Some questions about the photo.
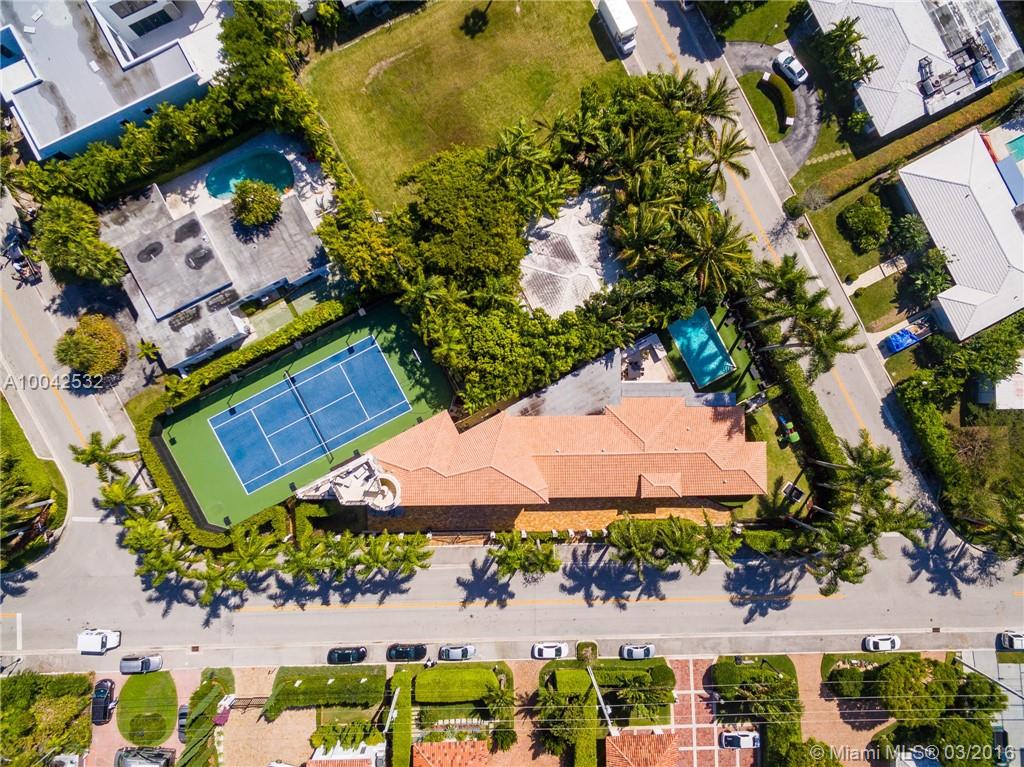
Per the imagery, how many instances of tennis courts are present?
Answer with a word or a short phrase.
1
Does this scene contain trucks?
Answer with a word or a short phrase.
Yes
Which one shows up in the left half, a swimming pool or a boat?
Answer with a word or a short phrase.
swimming pool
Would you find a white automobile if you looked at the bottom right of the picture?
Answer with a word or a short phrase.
Yes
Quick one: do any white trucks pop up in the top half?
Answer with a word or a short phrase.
Yes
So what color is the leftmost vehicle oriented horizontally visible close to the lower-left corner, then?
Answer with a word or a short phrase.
white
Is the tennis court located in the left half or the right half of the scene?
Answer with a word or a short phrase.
left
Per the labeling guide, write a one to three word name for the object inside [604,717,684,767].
house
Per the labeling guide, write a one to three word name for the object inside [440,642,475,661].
car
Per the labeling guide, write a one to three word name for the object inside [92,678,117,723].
car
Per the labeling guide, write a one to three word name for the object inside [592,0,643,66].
truck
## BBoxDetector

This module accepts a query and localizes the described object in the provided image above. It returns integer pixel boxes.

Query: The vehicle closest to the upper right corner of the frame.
[775,49,807,87]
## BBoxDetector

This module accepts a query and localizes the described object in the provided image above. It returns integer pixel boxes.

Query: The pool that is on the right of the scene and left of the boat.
[668,305,739,391]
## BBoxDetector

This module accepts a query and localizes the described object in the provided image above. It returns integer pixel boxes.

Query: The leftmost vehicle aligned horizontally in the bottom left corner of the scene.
[71,630,122,656]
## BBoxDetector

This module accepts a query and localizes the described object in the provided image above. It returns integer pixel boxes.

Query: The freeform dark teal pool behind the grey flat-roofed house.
[204,146,297,203]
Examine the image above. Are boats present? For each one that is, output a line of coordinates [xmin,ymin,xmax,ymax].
[876,321,933,359]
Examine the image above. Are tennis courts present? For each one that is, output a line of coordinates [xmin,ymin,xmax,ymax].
[163,308,456,528]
